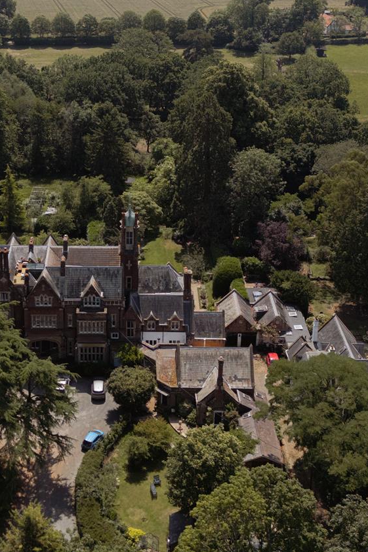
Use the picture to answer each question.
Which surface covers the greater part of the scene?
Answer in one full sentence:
The largest share of the image is taken up by trees.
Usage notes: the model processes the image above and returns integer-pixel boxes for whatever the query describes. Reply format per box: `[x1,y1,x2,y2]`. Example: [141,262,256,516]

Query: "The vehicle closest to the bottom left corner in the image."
[80,427,107,452]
